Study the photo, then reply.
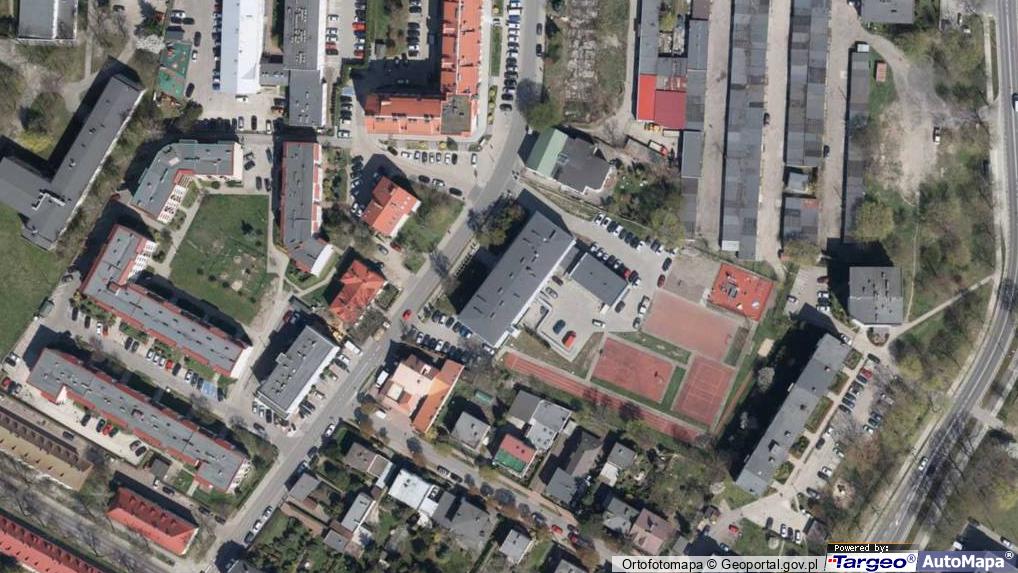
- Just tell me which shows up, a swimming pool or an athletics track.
athletics track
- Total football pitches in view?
1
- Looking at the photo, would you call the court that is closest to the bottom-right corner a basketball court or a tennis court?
tennis court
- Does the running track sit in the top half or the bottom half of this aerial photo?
bottom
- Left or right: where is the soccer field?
right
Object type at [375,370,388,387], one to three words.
vehicle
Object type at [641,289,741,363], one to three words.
soccer field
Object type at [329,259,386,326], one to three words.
house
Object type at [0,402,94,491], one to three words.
building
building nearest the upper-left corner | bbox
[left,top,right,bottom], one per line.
[18,0,79,40]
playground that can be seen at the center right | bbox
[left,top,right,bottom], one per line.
[709,263,774,320]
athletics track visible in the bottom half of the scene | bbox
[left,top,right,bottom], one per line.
[503,352,706,443]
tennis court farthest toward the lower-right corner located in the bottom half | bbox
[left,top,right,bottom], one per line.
[673,354,738,429]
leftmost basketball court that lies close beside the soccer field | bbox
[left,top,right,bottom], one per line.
[591,335,676,403]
